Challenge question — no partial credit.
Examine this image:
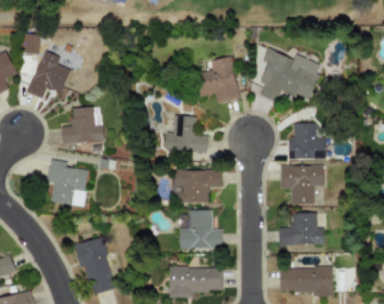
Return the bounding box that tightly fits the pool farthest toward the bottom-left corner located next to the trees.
[152,211,172,232]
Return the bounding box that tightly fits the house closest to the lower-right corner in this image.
[280,268,334,297]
